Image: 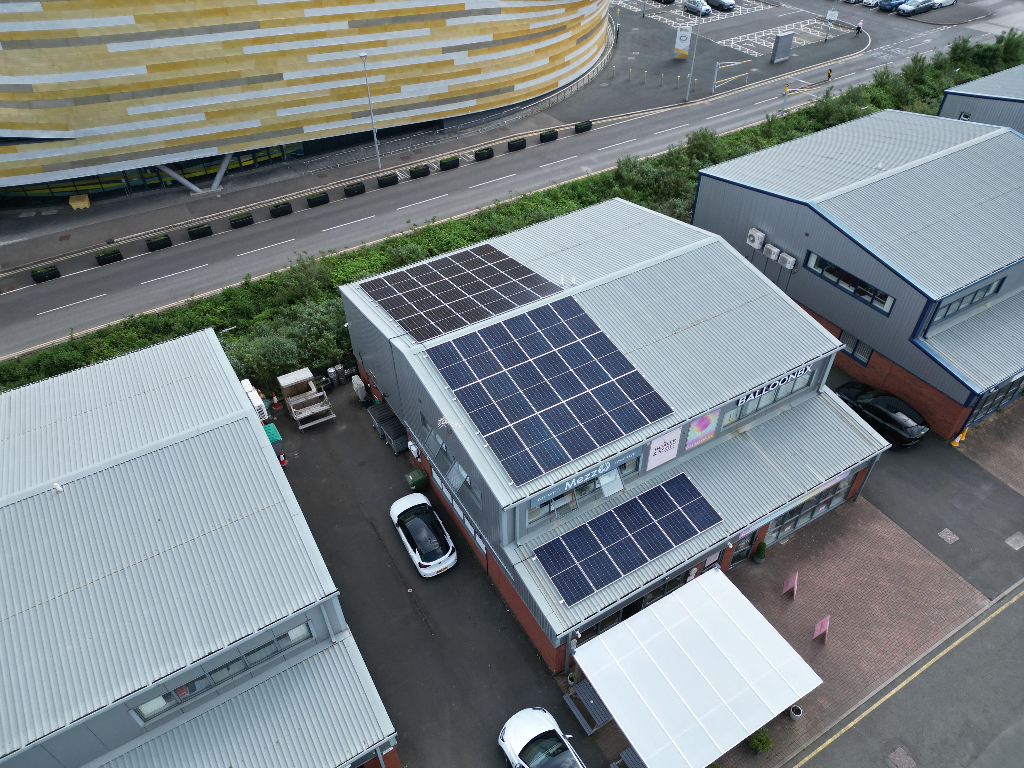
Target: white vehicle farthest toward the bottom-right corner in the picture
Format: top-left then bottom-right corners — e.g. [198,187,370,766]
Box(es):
[498,707,585,768]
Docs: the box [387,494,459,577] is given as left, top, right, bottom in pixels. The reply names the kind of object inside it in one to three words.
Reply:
car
